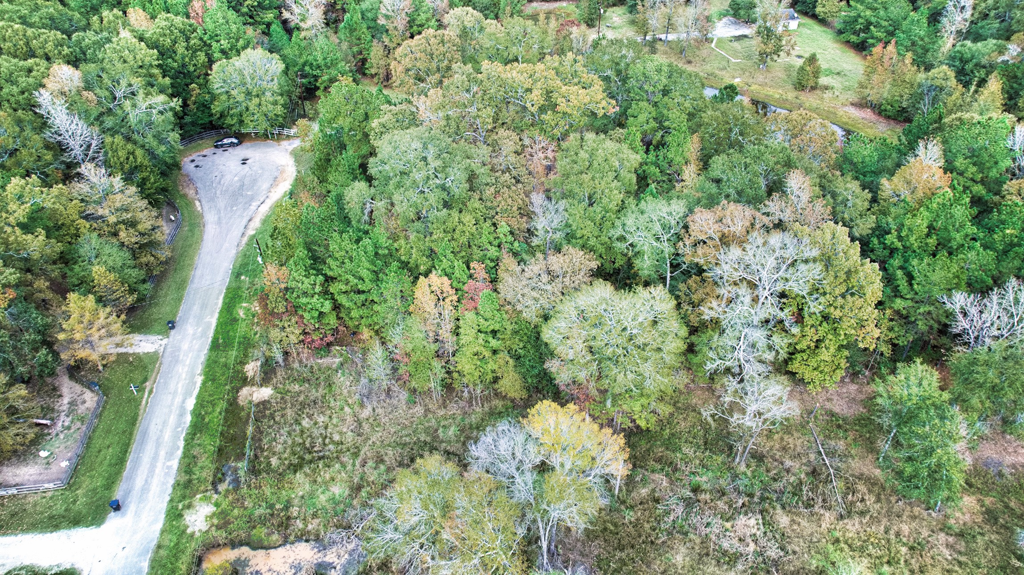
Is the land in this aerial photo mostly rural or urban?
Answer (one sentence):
The land in this view is best described as rural.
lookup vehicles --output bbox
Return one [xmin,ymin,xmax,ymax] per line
[213,133,242,146]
